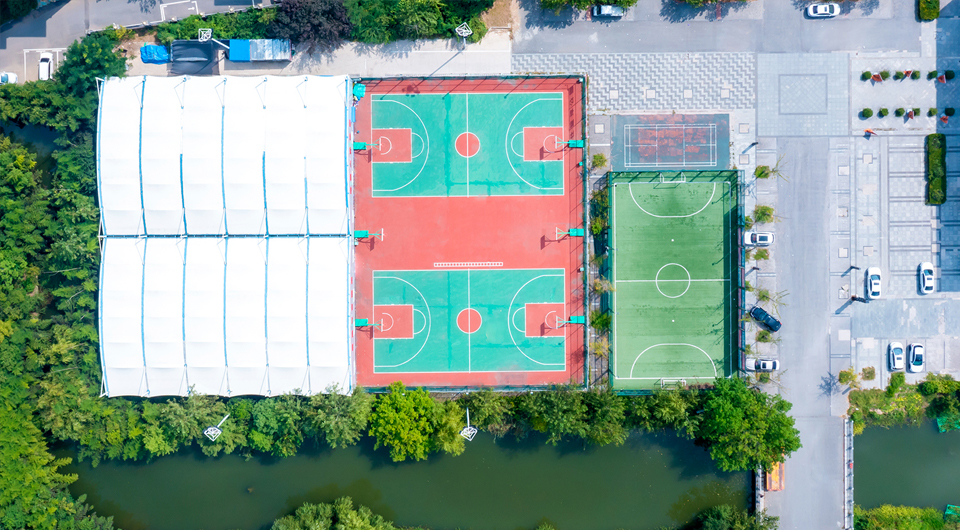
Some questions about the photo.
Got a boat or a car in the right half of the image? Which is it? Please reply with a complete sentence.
Looking in the right half of the image, you will find a car.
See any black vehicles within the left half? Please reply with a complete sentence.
No, no black vehicle can be made out within the left half.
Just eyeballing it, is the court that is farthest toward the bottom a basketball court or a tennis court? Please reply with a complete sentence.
The court that is farthest toward the bottom can be classified as a basketball court.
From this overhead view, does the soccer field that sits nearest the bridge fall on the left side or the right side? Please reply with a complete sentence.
It is on the right.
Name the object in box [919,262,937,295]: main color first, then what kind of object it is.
white car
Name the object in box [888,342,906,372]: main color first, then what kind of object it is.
white car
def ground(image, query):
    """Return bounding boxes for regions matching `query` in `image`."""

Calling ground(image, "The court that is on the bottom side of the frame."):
[374,267,565,373]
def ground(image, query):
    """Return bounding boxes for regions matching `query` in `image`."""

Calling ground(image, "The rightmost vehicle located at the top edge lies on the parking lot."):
[807,2,841,17]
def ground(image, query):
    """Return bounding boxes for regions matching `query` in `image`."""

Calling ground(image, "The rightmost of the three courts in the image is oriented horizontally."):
[610,114,730,171]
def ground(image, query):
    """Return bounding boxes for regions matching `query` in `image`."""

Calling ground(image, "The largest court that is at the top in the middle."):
[372,92,564,197]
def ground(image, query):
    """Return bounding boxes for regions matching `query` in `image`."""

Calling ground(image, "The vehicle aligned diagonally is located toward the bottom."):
[752,306,784,334]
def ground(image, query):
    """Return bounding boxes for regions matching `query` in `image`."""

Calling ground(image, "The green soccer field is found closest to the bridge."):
[606,170,741,389]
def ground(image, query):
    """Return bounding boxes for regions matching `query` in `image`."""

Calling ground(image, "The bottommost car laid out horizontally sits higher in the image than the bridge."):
[747,358,781,373]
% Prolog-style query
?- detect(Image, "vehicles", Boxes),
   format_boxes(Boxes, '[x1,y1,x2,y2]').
[908,342,926,374]
[888,342,906,372]
[807,2,841,17]
[866,267,884,300]
[35,49,53,83]
[0,69,15,84]
[592,4,625,18]
[747,358,781,373]
[919,262,937,295]
[752,306,784,334]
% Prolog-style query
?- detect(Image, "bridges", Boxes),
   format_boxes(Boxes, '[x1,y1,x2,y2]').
[756,419,854,530]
